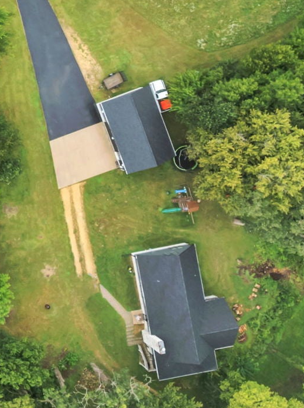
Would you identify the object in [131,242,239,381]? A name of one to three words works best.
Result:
house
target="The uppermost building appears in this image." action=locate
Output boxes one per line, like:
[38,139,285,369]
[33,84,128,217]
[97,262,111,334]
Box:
[98,84,177,174]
